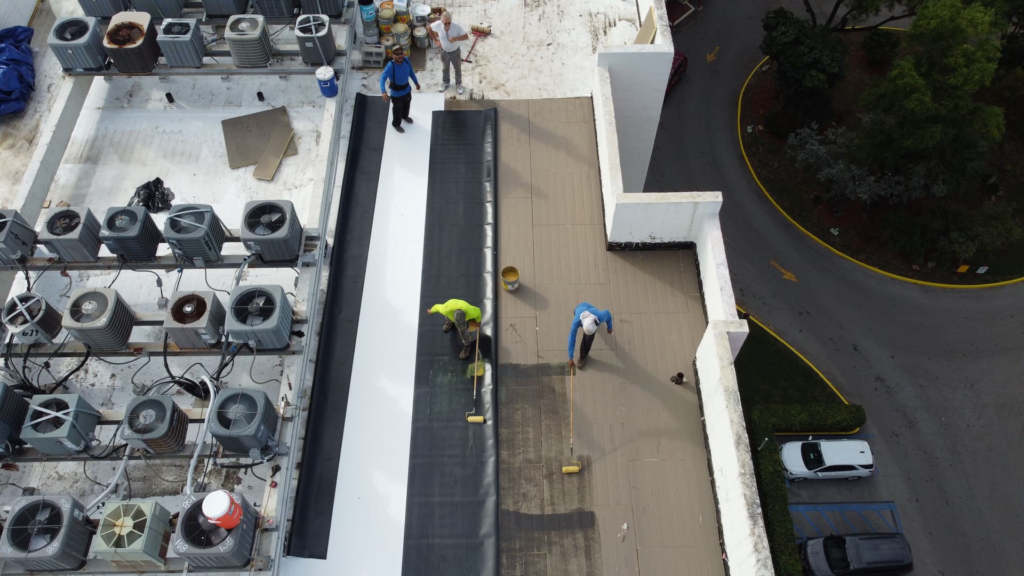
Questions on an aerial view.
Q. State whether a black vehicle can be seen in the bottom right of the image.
Yes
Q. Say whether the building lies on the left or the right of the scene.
right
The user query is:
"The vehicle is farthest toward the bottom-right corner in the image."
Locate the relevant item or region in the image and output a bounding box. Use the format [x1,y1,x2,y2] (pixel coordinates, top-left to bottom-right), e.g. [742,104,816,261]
[800,524,920,576]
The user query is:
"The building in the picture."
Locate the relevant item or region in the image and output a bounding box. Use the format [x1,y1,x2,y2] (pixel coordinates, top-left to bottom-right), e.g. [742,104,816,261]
[589,0,777,576]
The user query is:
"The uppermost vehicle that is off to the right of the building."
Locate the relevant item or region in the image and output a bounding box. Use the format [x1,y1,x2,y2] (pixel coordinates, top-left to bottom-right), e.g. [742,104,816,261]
[780,435,878,485]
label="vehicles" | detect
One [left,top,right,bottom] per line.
[800,524,920,576]
[780,435,878,485]
[662,56,689,110]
